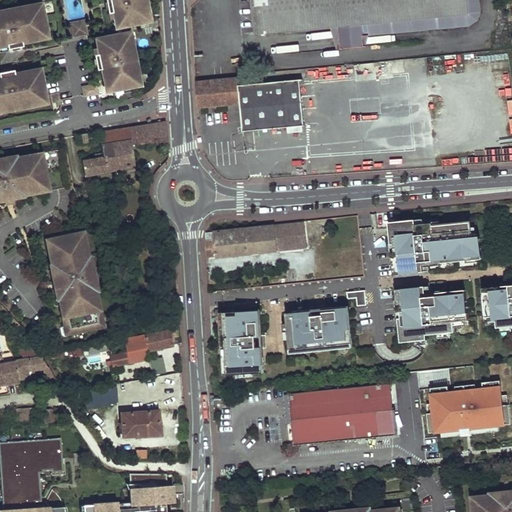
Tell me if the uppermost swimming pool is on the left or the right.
left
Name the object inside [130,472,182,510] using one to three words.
house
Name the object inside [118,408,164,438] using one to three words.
house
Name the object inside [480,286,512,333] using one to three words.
building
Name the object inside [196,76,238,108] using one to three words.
building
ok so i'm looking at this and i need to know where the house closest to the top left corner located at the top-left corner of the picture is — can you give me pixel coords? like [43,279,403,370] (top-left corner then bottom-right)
[0,2,52,52]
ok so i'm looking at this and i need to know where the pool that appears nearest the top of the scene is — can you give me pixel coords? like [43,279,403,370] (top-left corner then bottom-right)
[64,0,86,22]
